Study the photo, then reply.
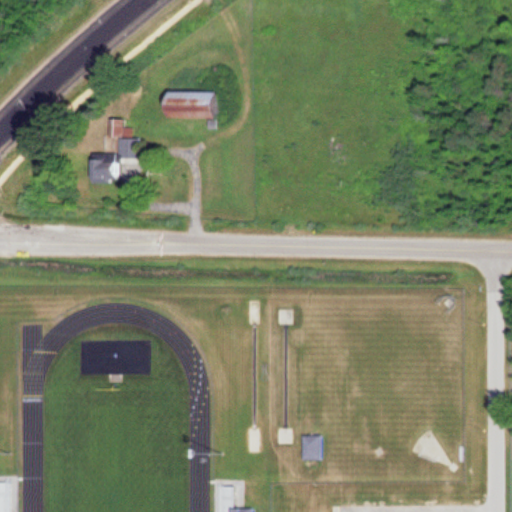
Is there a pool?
No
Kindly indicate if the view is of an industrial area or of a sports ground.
sports ground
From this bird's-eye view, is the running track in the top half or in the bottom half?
bottom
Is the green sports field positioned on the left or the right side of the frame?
left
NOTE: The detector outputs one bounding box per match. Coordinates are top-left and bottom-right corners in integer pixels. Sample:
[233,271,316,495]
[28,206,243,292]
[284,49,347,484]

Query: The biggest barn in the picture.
[160,91,218,119]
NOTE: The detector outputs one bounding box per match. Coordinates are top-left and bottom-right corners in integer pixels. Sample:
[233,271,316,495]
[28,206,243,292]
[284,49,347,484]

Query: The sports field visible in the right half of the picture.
[272,289,462,481]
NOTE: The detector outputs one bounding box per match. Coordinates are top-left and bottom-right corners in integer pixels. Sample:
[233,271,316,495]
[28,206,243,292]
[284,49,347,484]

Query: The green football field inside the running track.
[44,324,189,512]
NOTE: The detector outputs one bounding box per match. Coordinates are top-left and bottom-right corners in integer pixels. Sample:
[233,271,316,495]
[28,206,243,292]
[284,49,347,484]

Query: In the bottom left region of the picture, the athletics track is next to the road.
[23,303,210,512]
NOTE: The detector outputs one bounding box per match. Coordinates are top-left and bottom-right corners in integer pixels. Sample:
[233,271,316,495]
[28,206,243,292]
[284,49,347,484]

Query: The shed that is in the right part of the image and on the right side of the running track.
[302,435,326,460]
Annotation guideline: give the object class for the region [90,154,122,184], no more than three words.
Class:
house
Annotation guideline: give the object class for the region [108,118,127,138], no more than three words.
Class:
shed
